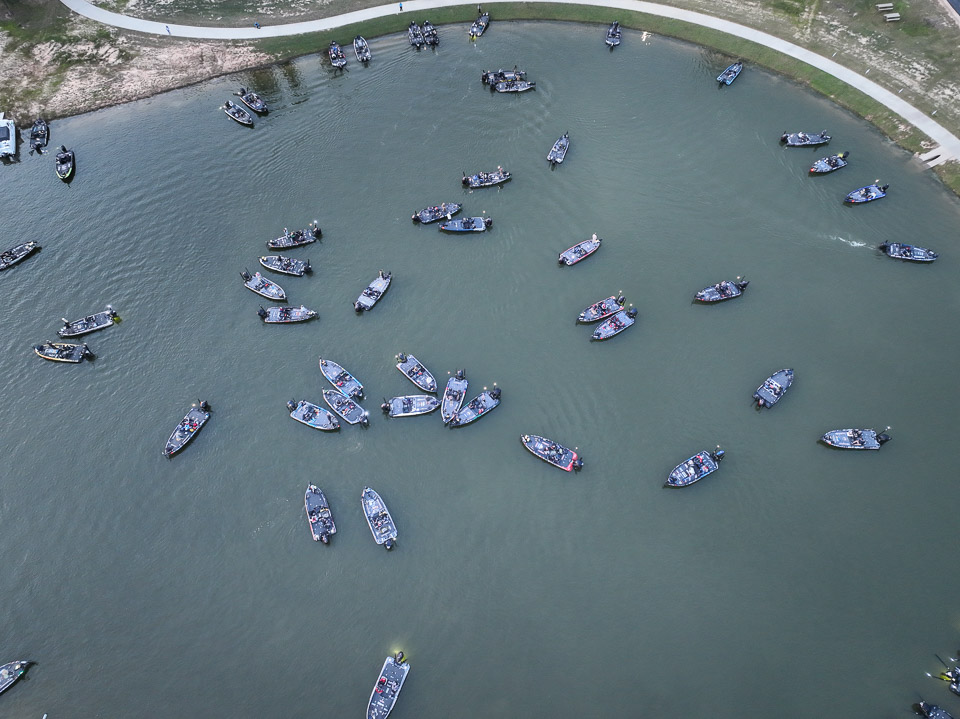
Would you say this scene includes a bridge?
No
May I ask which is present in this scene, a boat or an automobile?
boat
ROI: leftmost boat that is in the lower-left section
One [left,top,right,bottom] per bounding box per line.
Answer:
[0,657,32,692]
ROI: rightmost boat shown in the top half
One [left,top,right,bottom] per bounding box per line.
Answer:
[884,243,938,262]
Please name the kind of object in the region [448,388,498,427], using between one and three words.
boat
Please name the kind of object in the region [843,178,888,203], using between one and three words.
boat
